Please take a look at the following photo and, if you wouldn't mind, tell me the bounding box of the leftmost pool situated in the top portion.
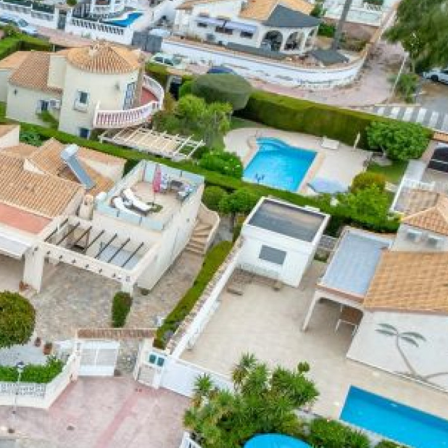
[103,12,139,29]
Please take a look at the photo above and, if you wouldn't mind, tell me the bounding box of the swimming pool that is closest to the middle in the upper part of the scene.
[234,133,325,194]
